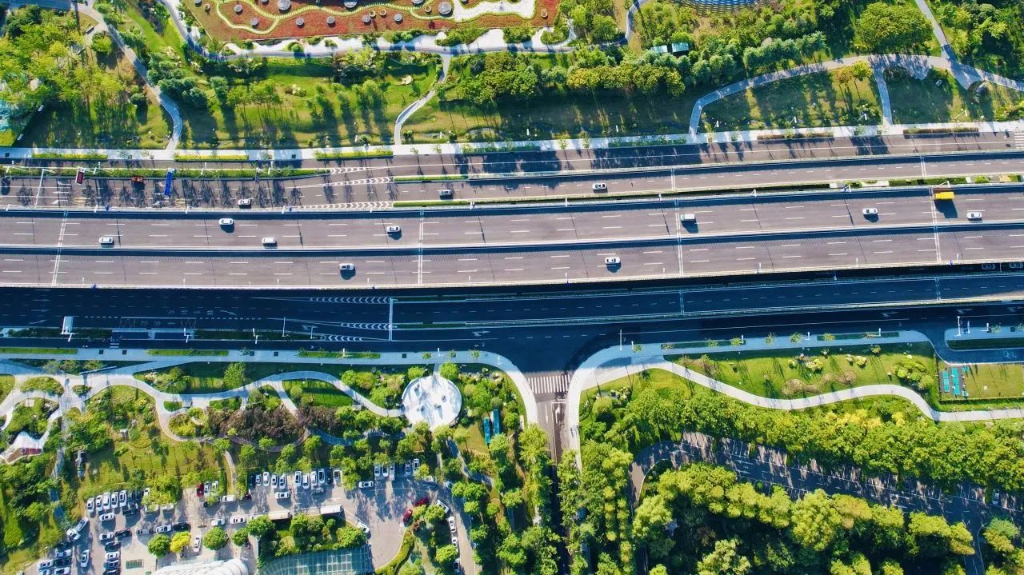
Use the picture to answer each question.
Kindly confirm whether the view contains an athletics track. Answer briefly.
No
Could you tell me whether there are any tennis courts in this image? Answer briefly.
Yes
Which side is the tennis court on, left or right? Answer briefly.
right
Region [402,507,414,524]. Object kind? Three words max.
vehicle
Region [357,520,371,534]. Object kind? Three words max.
car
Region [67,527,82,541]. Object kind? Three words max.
car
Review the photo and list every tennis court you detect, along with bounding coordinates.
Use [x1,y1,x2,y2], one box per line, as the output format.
[941,366,966,398]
